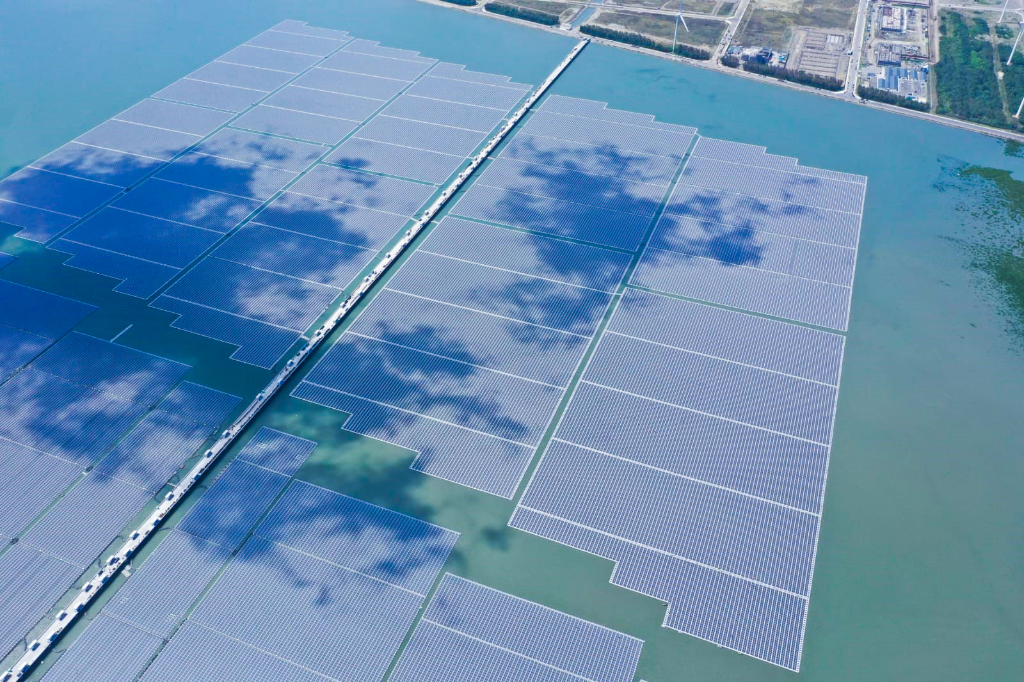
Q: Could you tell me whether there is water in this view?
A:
Yes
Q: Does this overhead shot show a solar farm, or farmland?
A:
solar farm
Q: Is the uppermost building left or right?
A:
right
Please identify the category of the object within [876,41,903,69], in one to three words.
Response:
building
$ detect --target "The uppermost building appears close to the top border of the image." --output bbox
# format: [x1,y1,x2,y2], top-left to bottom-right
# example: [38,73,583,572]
[879,5,903,35]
